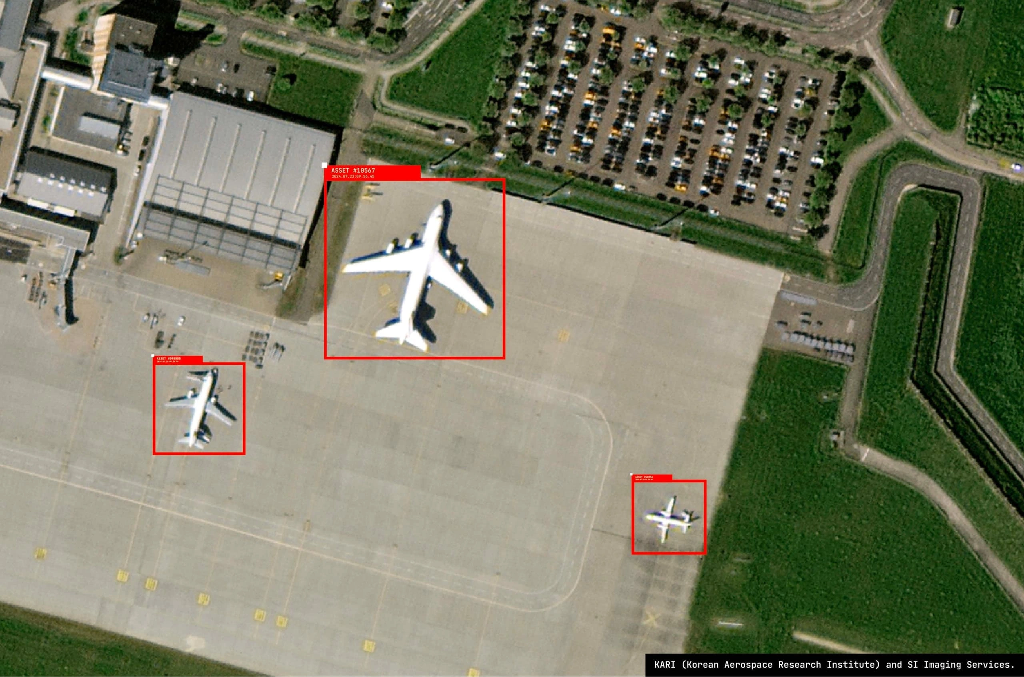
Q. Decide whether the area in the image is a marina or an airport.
airport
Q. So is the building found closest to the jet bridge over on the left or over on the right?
left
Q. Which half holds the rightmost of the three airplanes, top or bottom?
bottom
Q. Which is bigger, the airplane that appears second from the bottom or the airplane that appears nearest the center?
the airplane that appears nearest the center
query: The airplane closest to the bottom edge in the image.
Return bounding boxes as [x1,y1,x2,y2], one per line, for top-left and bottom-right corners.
[646,497,691,544]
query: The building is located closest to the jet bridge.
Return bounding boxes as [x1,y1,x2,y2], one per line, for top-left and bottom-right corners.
[0,209,89,251]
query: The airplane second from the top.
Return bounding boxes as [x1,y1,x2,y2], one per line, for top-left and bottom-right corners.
[165,371,233,449]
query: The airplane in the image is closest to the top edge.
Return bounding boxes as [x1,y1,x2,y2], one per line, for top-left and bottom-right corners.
[346,204,488,354]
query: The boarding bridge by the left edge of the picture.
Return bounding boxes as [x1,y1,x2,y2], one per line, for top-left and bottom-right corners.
[50,247,76,333]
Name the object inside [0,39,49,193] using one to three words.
building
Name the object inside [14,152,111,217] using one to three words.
building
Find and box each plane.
[346,204,488,354]
[165,371,233,449]
[646,497,691,544]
